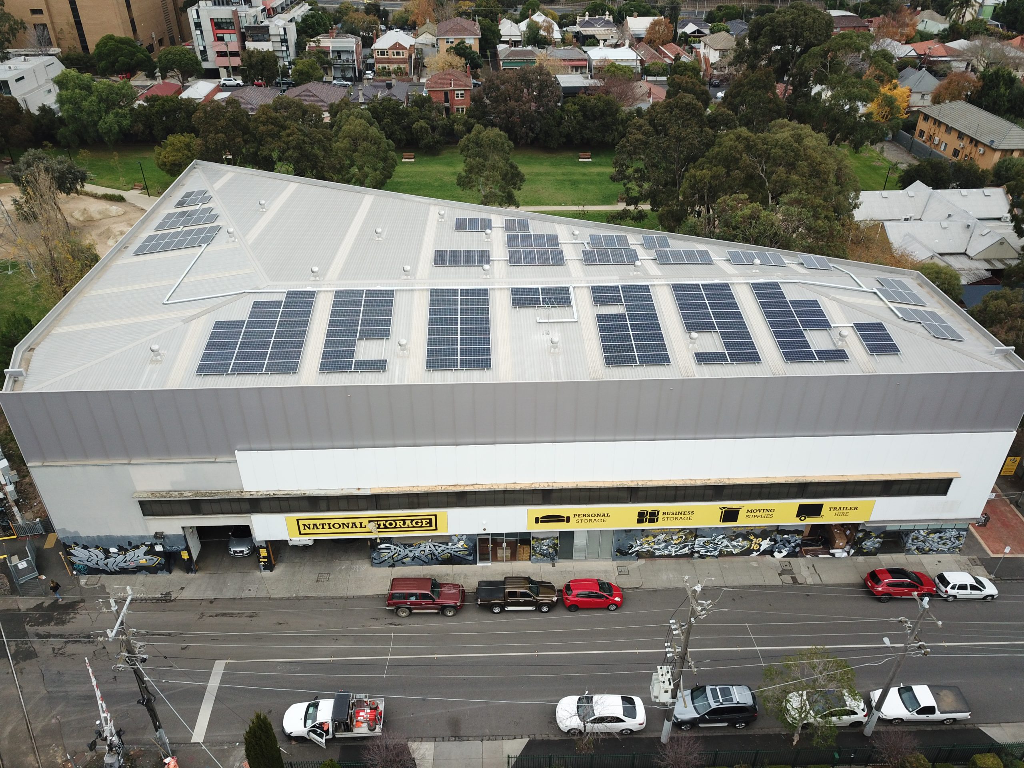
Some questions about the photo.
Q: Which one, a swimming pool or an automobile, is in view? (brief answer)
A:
automobile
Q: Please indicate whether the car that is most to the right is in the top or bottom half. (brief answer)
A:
bottom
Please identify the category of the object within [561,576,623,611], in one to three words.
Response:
car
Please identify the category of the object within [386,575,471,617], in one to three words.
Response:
car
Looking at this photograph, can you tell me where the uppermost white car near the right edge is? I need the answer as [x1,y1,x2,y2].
[929,568,997,601]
